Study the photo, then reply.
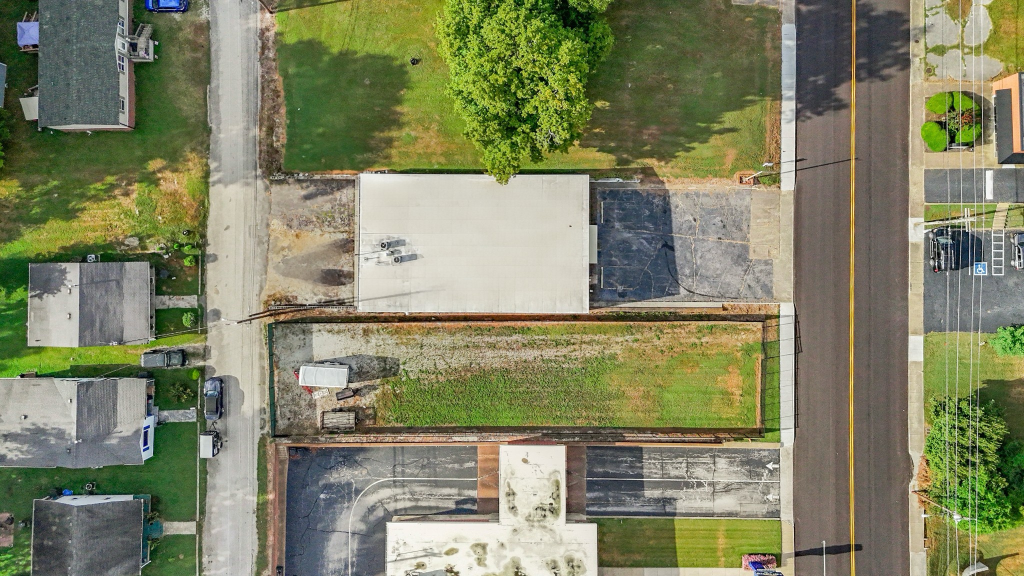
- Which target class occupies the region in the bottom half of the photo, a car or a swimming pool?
car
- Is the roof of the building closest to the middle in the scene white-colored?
Yes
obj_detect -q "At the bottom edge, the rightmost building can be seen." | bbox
[385,444,598,576]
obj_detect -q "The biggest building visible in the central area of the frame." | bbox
[354,174,597,316]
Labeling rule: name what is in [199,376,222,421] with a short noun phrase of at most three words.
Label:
car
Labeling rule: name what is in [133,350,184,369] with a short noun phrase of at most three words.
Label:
car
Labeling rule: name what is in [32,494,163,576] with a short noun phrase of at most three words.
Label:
house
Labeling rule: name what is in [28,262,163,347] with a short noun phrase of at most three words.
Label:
house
